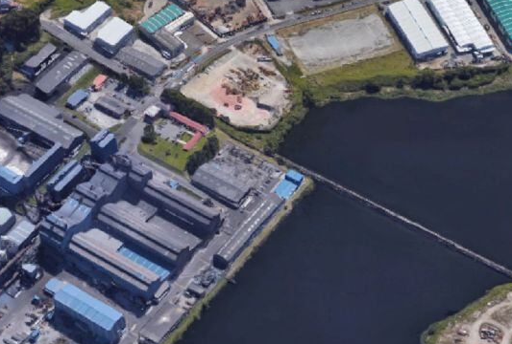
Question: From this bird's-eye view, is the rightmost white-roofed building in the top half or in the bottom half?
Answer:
top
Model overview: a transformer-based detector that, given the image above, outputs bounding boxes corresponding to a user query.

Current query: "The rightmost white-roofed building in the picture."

[426,0,494,57]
